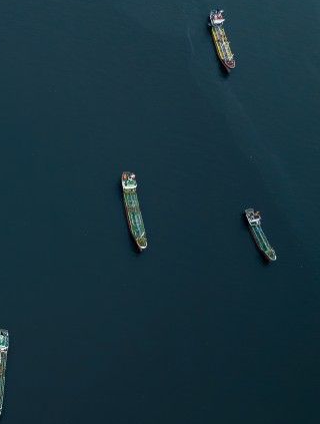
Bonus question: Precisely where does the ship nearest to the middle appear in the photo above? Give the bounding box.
[122,171,147,253]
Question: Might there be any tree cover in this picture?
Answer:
No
